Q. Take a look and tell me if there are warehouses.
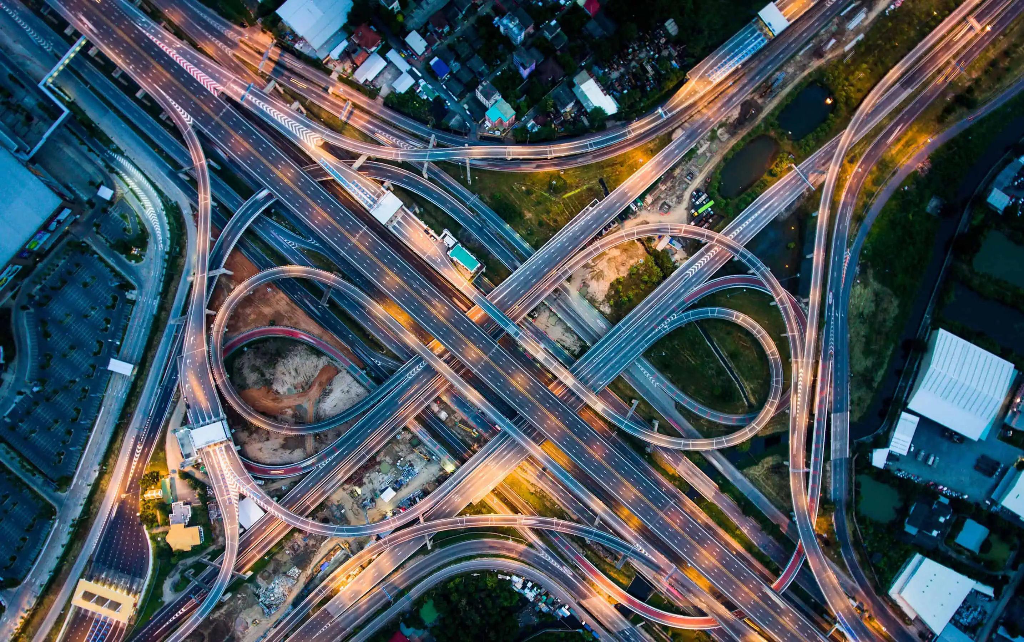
Yes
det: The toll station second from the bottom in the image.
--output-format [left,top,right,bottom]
[190,421,231,460]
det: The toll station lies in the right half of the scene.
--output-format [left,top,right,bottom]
[748,0,793,48]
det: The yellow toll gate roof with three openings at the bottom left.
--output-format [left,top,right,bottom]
[66,566,141,642]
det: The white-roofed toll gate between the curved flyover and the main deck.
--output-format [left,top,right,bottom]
[370,186,412,233]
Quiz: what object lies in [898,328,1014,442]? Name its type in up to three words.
warehouse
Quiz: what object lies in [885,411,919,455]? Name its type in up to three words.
building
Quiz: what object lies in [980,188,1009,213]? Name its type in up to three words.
house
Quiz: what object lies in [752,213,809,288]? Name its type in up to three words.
pond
